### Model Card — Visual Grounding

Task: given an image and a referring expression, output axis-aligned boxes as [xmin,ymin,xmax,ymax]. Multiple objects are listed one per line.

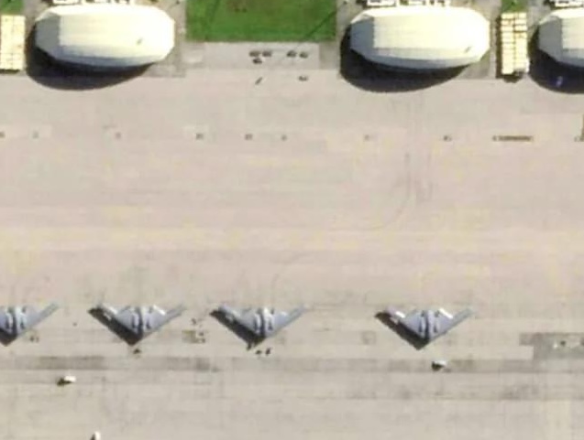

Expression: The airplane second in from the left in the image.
[95,299,186,337]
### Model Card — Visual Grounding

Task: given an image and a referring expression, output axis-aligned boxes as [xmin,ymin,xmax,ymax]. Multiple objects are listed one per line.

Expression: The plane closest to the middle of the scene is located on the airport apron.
[218,300,307,337]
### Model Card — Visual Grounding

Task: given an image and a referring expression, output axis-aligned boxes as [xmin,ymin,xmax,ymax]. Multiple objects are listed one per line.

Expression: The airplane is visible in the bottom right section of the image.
[384,304,474,342]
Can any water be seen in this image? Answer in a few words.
No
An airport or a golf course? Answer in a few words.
airport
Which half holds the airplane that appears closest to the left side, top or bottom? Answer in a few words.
bottom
